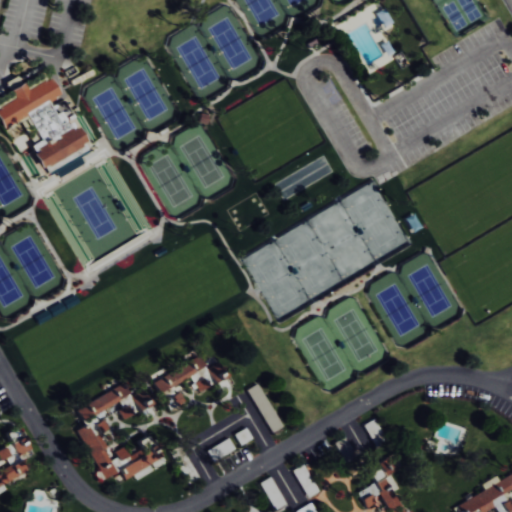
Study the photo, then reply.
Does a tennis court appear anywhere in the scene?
Yes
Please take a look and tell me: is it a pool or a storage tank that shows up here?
pool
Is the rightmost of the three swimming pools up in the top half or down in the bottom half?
bottom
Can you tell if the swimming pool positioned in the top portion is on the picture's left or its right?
right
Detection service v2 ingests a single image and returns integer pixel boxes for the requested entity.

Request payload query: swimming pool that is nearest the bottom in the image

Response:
[25,488,58,512]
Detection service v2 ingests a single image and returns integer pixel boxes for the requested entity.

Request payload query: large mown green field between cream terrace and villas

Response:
[15,234,240,398]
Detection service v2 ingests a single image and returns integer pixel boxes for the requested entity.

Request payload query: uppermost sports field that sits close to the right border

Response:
[408,132,512,253]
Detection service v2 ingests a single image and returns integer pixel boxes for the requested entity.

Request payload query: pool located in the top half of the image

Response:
[332,3,398,74]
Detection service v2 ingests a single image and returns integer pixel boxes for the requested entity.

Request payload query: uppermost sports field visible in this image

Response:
[220,82,323,180]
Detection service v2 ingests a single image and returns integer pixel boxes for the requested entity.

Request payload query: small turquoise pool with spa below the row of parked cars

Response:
[434,422,466,454]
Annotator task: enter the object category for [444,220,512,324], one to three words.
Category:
sports field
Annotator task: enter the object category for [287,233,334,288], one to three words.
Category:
tennis court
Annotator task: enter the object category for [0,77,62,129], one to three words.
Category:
building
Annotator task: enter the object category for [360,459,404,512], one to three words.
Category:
house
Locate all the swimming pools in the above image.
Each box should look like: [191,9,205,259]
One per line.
[332,3,398,74]
[434,422,466,454]
[25,488,58,512]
